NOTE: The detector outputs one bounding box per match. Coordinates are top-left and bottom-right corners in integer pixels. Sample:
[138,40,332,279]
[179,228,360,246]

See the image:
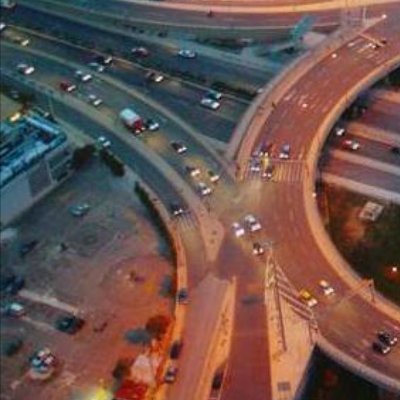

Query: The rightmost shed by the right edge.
[358,198,384,221]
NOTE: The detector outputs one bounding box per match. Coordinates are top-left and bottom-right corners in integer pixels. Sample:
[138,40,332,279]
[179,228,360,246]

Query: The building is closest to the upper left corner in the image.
[0,108,70,227]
